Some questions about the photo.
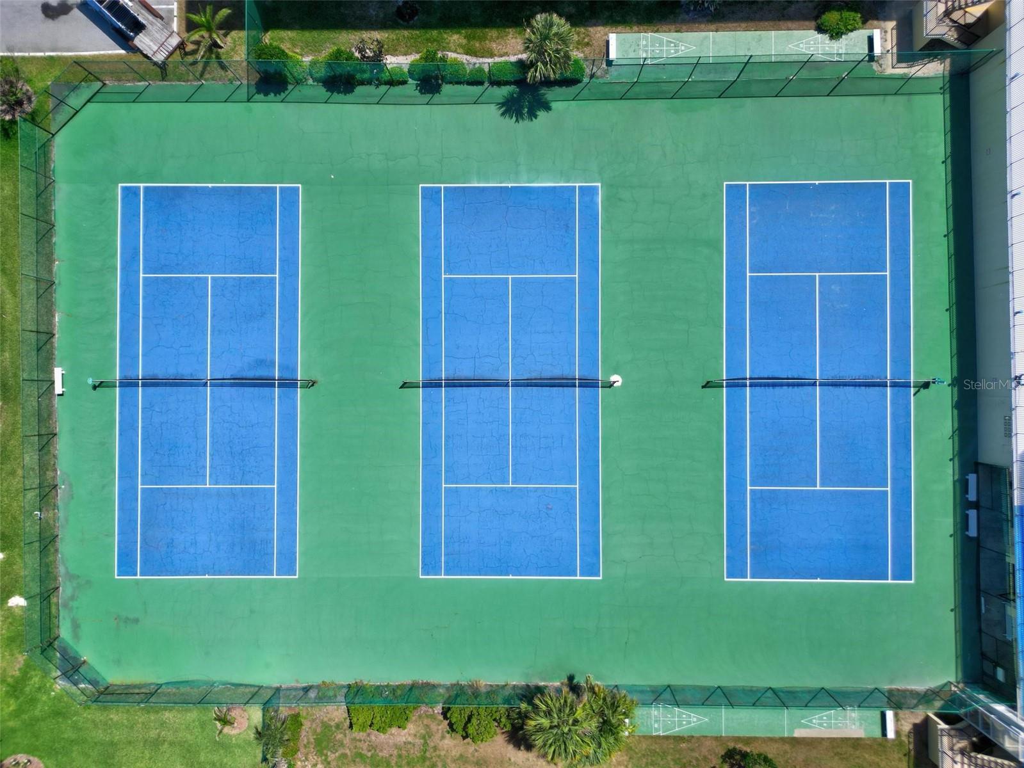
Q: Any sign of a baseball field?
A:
No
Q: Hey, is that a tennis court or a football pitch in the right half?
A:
tennis court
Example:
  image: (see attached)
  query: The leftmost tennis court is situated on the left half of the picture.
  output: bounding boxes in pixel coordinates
[115,184,301,578]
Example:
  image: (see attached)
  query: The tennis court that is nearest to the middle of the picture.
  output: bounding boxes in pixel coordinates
[420,183,602,579]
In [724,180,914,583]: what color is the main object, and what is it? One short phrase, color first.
blue tennis court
